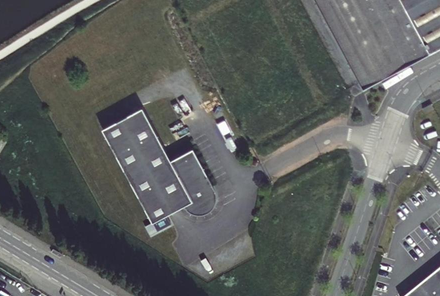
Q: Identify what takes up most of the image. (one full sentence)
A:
Most of the picture is covered by grass.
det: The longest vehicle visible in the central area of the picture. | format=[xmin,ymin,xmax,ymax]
[217,120,234,146]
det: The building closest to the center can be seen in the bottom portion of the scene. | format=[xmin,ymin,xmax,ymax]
[171,151,216,216]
